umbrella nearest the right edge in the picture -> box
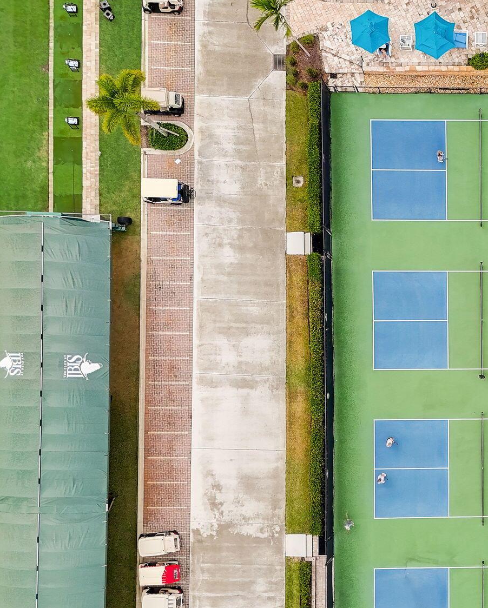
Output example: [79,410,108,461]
[414,12,456,60]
